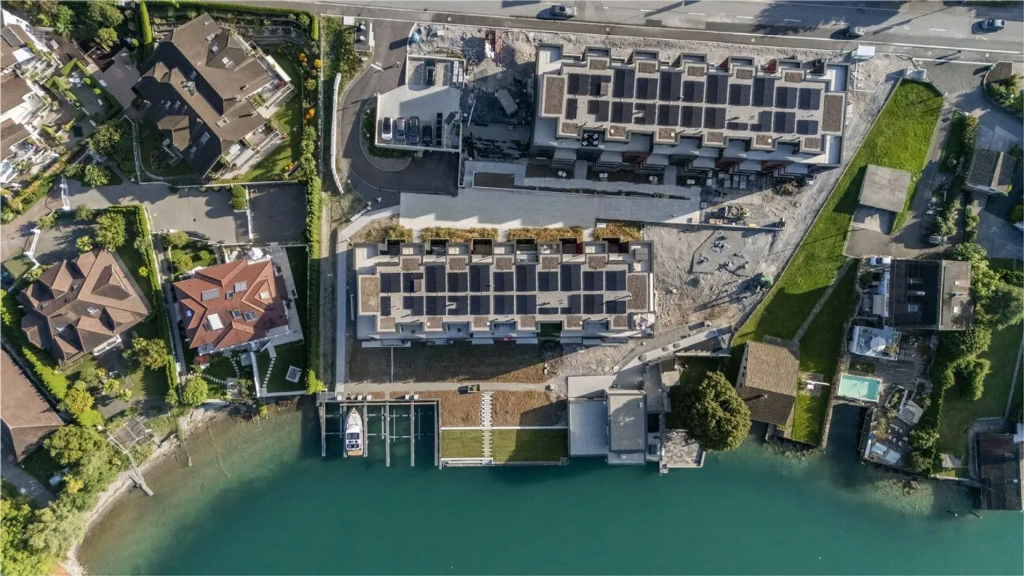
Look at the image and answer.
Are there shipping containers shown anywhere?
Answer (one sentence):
Yes, this view includes a shipping container.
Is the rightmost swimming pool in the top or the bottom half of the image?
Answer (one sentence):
The bottom half of the photo is where the rightmost swimming pool is.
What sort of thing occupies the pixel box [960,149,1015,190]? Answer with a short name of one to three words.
building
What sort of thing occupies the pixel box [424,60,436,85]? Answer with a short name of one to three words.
vehicle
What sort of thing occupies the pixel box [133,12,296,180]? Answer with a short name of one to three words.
house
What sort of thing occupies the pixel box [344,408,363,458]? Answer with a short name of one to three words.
boat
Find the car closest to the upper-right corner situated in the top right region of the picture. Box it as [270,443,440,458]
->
[981,16,1010,30]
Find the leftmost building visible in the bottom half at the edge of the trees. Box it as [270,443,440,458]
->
[0,335,71,462]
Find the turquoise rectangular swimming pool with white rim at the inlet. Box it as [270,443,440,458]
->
[835,372,883,403]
